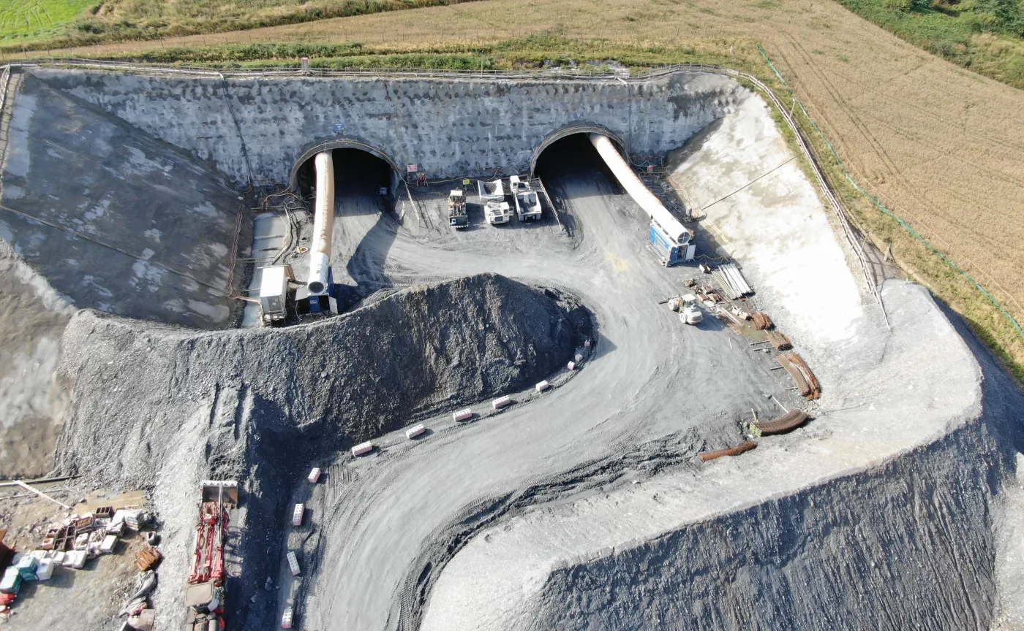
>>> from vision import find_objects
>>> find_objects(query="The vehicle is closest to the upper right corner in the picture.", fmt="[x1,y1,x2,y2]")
[653,291,706,323]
